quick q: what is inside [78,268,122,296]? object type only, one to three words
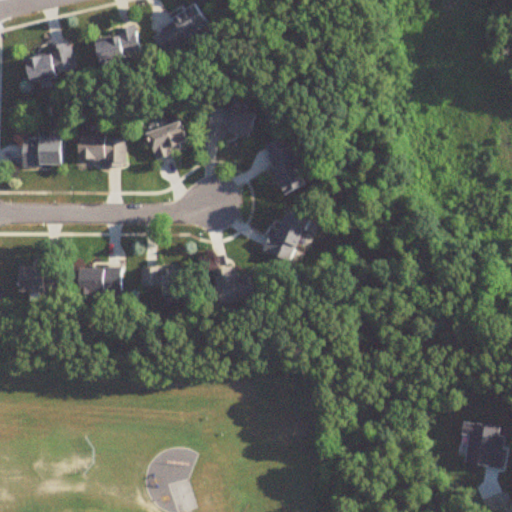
house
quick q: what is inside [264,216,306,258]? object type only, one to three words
house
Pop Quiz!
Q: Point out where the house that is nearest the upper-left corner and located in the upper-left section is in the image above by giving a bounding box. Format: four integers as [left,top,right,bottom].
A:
[27,42,74,77]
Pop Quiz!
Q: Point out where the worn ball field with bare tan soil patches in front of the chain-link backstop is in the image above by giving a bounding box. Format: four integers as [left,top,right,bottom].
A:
[28,436,100,502]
